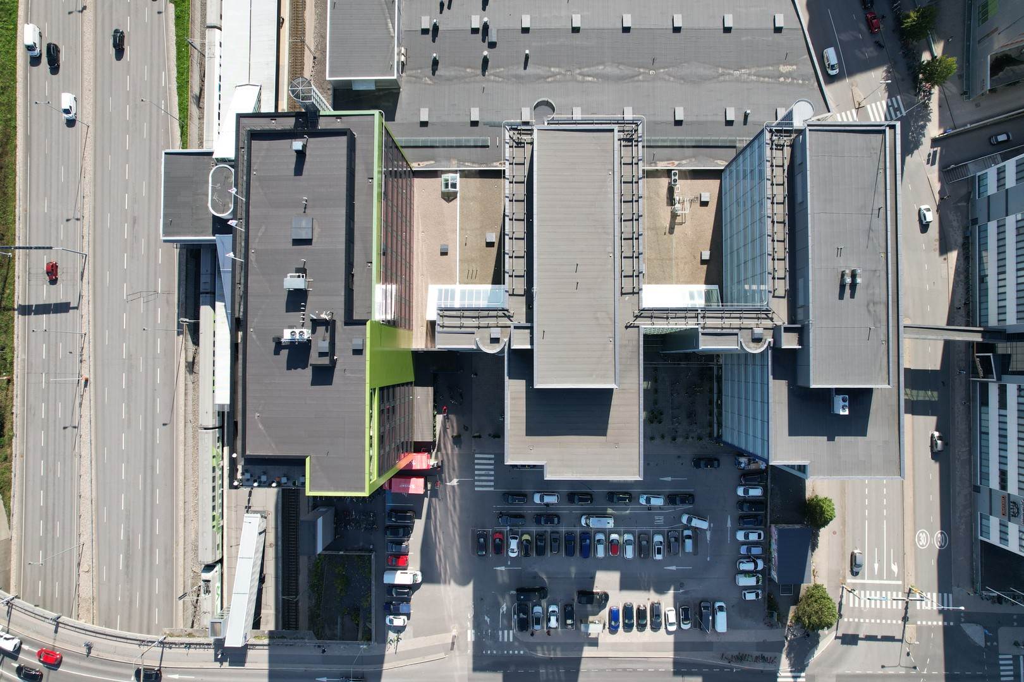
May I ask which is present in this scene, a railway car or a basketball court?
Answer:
railway car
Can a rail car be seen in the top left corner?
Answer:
Yes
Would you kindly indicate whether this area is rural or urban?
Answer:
urban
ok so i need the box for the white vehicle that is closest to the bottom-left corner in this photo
[0,631,22,653]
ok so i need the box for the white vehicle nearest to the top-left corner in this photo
[25,26,41,54]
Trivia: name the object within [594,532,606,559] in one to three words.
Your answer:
vehicle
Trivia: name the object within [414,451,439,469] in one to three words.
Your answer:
vehicle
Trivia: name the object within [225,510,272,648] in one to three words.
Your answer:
building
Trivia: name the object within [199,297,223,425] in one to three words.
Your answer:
rail car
